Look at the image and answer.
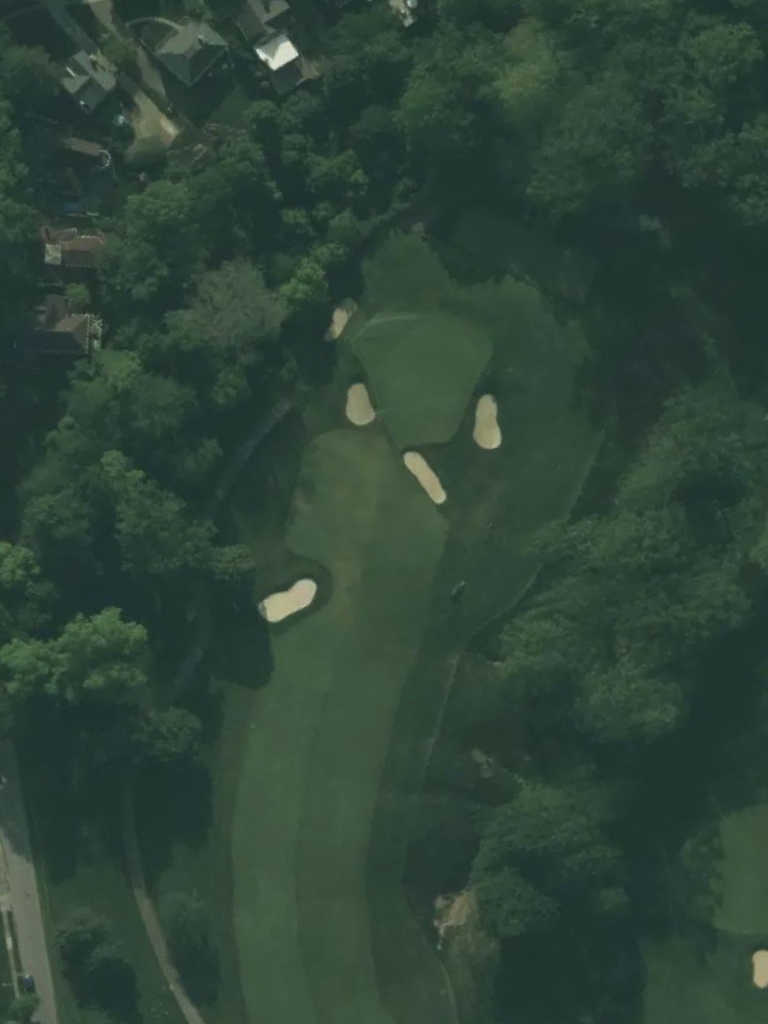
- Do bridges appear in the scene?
No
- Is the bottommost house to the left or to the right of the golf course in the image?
to the left of it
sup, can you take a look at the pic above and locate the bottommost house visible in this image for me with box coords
[30,292,102,353]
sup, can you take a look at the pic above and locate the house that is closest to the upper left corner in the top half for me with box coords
[60,44,115,109]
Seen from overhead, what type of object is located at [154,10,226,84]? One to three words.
house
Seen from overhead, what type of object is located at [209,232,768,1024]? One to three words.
golf course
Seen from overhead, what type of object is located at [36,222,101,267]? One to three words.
house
